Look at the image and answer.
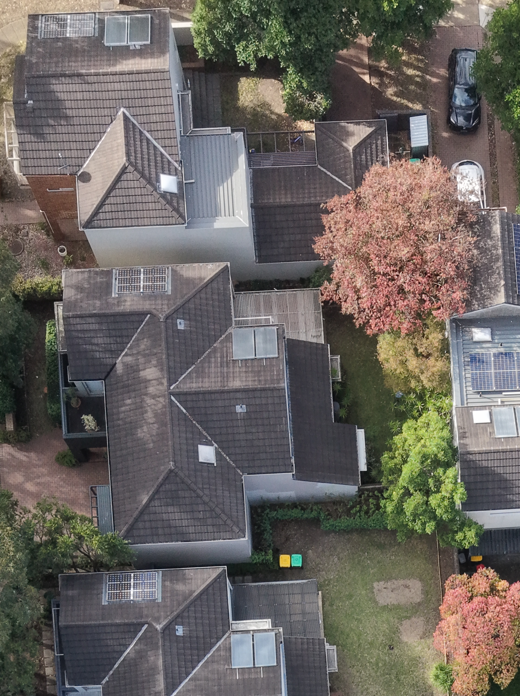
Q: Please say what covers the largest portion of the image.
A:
buildings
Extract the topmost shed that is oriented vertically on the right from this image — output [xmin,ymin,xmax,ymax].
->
[410,115,428,163]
